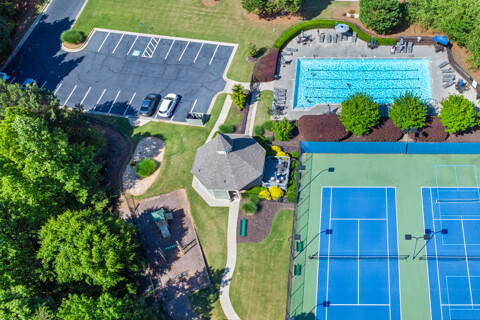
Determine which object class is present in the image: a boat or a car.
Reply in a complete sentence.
The image shows a car.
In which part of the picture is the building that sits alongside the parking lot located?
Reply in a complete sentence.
You can find the building that sits alongside the parking lot in the center area of the picture.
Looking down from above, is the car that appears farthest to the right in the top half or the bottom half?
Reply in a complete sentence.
It is in the top half that the car that appears farthest to the right appears.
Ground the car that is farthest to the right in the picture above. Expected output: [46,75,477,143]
[158,94,181,118]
